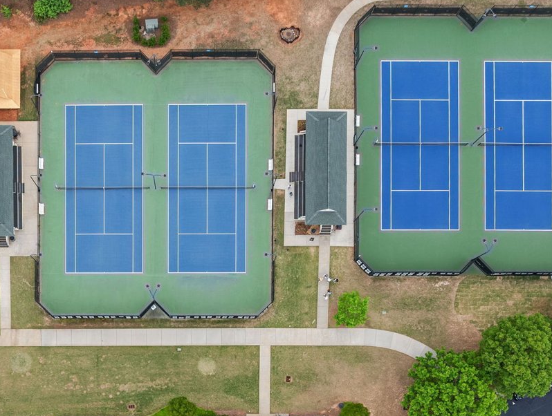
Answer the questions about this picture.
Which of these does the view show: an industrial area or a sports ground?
sports ground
